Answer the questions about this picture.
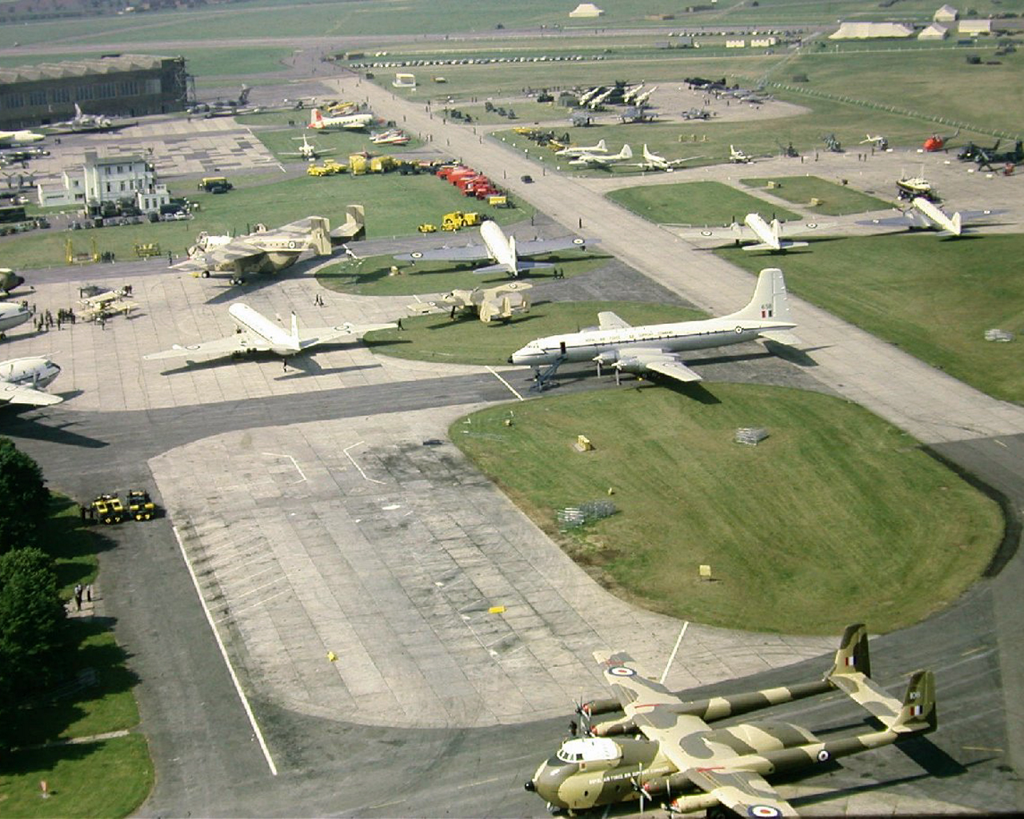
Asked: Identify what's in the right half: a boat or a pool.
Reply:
boat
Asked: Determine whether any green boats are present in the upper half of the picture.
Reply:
No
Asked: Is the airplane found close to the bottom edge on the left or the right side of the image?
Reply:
right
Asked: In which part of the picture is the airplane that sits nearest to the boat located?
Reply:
top right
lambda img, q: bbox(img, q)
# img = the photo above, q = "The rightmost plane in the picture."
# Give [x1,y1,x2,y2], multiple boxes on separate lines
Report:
[853,201,1008,243]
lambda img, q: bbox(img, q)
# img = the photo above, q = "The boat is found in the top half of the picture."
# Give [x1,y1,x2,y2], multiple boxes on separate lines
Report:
[894,164,940,200]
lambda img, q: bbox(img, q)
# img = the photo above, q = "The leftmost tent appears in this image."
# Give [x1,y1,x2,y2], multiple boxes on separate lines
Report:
[565,3,604,17]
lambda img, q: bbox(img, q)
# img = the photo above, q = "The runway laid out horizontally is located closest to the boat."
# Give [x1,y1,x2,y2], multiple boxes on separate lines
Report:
[0,16,1024,61]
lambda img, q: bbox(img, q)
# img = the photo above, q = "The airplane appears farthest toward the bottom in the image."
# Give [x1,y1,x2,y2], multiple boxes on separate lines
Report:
[524,624,945,819]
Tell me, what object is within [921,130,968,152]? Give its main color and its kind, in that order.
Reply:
red helicopter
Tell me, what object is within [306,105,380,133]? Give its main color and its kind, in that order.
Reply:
white airplane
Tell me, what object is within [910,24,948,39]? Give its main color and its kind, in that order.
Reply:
white tent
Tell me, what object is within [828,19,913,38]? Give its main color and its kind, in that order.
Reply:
white tent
